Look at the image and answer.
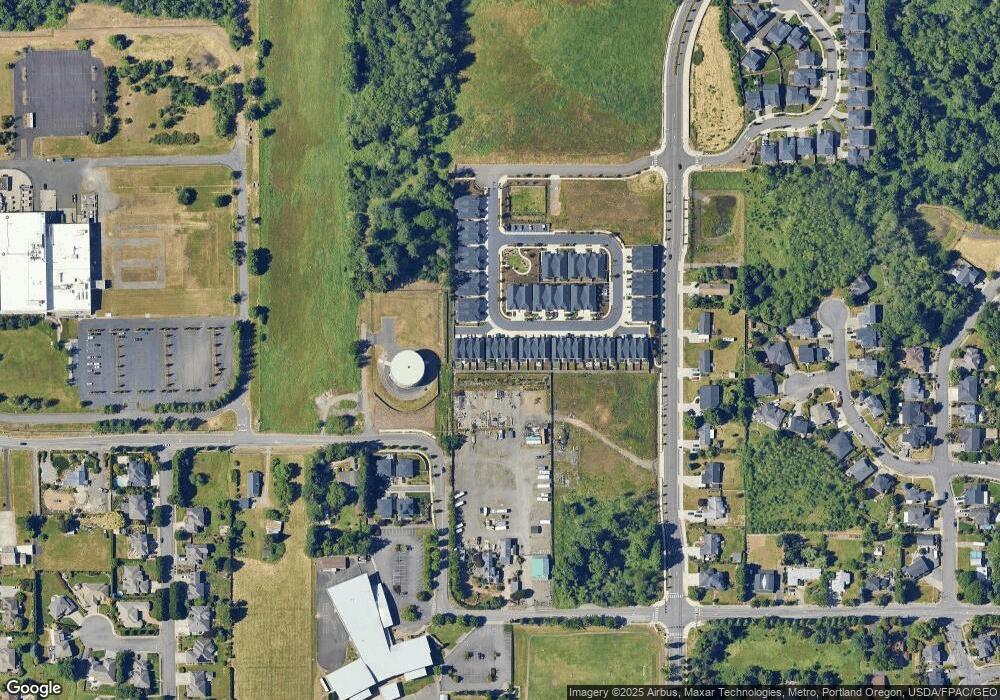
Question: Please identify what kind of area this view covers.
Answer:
residential area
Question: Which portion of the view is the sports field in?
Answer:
bottom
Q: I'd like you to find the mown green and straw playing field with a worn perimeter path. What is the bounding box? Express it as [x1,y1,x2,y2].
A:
[516,625,662,700]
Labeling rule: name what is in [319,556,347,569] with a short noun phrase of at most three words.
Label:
shed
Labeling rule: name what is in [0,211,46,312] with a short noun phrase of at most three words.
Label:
building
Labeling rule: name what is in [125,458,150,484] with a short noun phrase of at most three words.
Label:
house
